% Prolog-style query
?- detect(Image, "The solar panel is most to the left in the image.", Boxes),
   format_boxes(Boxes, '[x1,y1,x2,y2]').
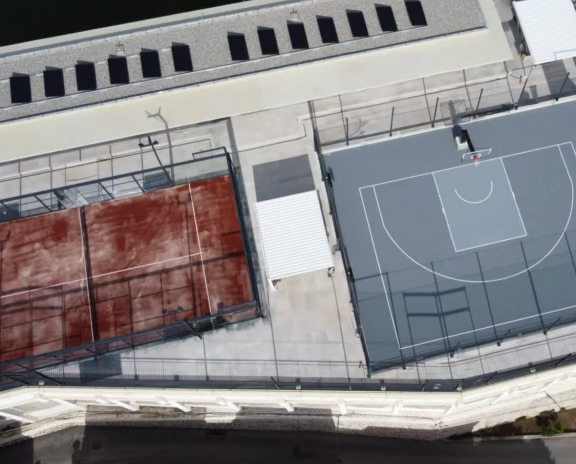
[9,76,31,104]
